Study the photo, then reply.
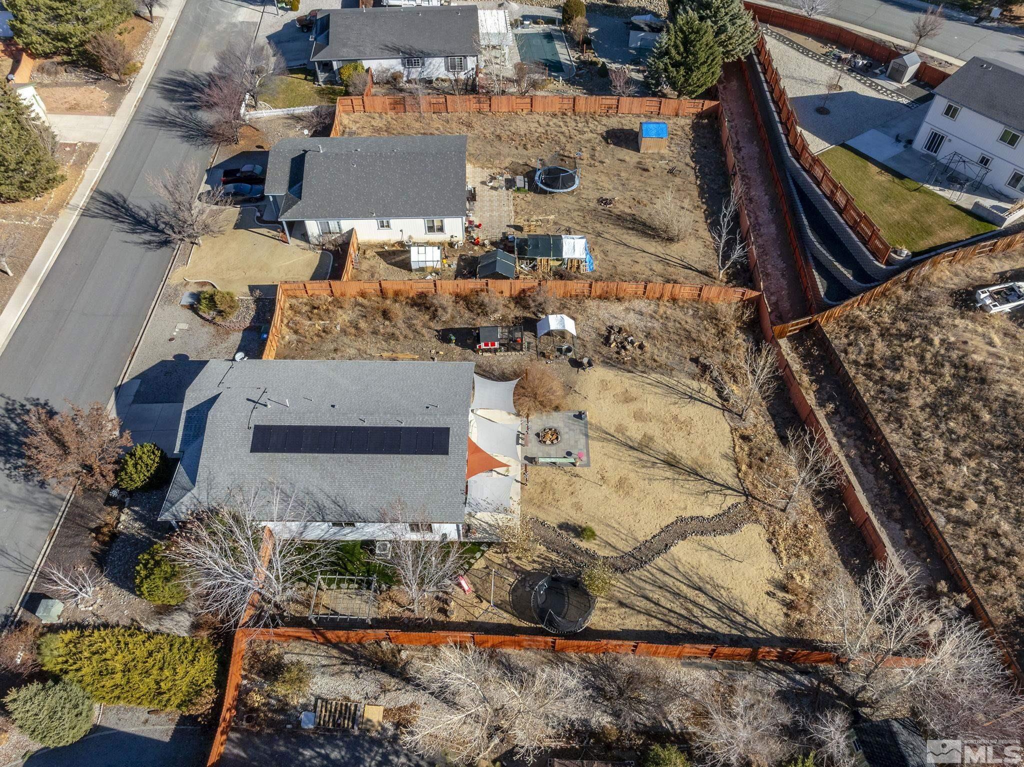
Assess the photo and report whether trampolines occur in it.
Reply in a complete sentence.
Yes, the image includes a trampoline.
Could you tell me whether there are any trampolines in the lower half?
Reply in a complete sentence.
Yes, a trampoline shows up in the lower half.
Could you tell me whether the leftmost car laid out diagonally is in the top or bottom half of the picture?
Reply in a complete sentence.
The leftmost car laid out diagonally sits in the top half of the picture.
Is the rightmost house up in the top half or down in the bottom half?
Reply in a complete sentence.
The rightmost house sits in the top half of the picture.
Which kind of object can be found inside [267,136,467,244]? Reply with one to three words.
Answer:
house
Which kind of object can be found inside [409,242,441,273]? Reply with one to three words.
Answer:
greenhouse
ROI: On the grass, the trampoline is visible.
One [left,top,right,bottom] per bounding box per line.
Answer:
[531,559,595,638]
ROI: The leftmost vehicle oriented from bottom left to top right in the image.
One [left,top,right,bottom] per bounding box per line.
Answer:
[296,9,332,31]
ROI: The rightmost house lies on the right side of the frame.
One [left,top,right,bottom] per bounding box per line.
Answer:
[913,57,1024,195]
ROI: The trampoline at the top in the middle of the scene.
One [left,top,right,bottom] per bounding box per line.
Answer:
[535,152,581,200]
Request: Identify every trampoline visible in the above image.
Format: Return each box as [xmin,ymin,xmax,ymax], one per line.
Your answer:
[531,559,595,638]
[535,152,581,200]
